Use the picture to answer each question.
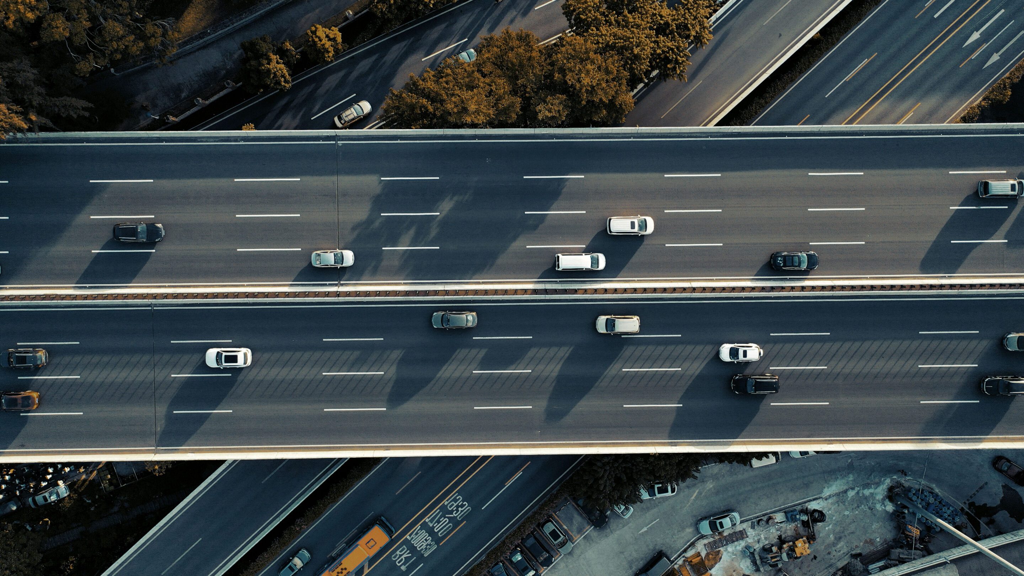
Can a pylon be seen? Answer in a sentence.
No, the picture doesn't show any pylon.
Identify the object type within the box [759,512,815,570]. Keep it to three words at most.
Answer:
work vehicle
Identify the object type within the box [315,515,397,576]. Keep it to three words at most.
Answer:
bus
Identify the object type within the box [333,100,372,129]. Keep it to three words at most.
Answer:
car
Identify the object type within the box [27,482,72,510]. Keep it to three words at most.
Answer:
car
